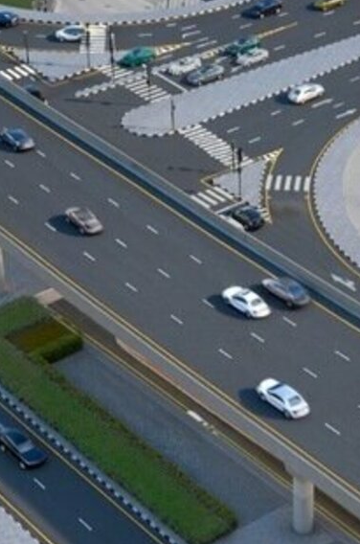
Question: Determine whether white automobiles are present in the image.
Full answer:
Yes, I can see a white automobile in this picture.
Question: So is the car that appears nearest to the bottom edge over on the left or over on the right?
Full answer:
You can find the car that appears nearest to the bottom edge on the left side of the picture.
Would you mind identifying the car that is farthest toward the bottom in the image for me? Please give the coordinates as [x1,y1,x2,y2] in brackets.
[0,430,45,468]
